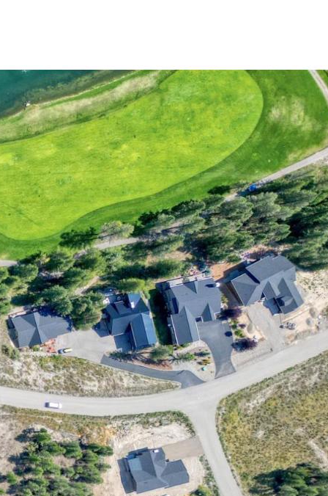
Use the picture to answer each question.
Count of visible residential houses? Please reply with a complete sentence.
The number of residential houses here is 5.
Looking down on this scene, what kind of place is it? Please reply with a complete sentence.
This looks like a golf course.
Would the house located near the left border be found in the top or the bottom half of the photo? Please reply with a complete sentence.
The bottom half of the photo is where the house located near the left border is.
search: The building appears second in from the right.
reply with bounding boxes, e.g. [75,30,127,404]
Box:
[161,278,221,345]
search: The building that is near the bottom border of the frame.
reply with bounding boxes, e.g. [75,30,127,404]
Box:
[125,446,190,493]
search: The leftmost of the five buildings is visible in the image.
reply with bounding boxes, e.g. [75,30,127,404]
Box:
[10,309,73,348]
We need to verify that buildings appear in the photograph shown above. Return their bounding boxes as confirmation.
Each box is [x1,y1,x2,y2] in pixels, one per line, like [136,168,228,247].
[161,278,221,345]
[125,446,190,493]
[224,255,303,312]
[10,309,73,348]
[102,292,160,348]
